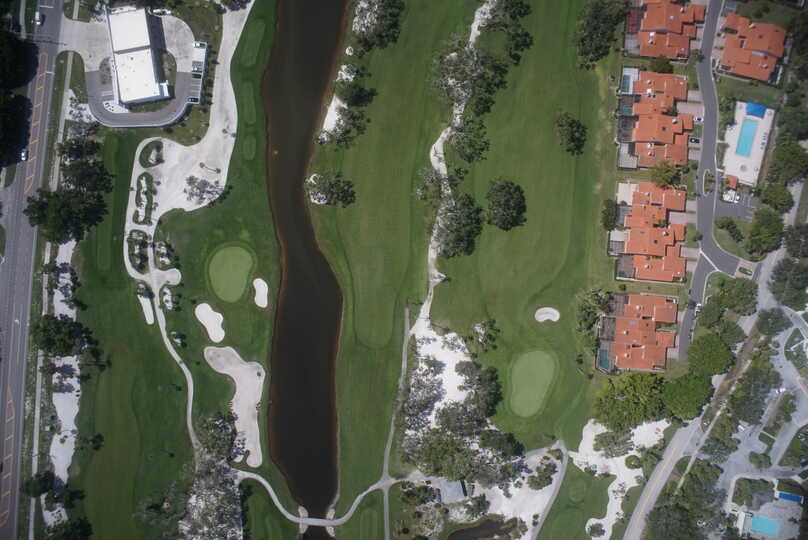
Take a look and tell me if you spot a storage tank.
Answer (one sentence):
No, no storage tank can be seen from above.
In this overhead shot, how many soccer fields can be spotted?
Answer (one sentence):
Not a single soccer field can be seen.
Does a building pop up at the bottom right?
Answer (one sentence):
Yes, there is a building at the bottom right.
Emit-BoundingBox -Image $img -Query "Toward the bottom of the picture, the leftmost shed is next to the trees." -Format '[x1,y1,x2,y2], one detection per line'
[440,478,466,503]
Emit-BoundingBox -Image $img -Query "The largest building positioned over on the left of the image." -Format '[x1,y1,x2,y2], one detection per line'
[109,6,167,107]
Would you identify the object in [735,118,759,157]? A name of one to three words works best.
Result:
swimming pool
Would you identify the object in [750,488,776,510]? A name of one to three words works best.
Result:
building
